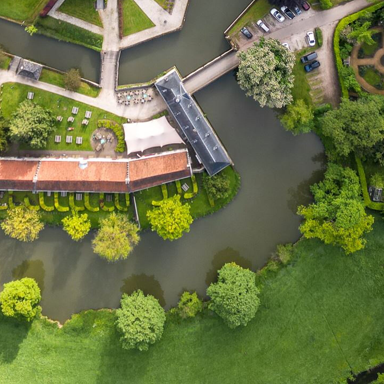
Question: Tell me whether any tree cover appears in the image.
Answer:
Yes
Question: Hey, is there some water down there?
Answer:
Yes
